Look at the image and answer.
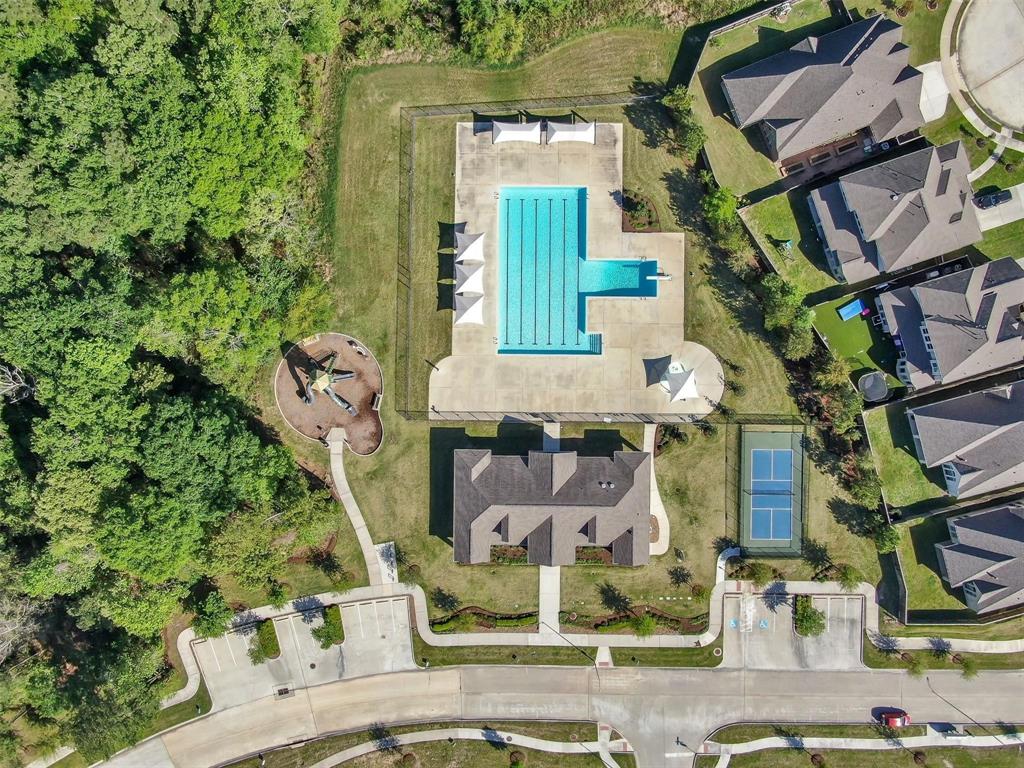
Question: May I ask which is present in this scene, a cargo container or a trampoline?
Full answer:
I can see a trampoline in this picture.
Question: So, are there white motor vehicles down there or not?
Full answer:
No, this view has no white motor vehicle in it.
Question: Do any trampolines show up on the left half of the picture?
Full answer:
No, on the left half of the picture there is no trampoline.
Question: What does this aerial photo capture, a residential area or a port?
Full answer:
What you see here is a residential area.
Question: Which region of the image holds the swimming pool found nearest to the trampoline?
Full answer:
You can find the swimming pool found nearest to the trampoline in the right area of the picture.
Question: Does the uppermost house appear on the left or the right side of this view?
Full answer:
It is on the right.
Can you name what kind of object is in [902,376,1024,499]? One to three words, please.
house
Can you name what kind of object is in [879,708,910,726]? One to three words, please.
car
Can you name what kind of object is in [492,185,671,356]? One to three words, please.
swimming pool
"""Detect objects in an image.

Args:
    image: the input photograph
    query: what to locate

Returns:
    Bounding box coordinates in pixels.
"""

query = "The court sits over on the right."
[741,431,802,556]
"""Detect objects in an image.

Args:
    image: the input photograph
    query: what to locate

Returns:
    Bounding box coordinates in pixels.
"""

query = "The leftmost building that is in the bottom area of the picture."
[454,449,650,569]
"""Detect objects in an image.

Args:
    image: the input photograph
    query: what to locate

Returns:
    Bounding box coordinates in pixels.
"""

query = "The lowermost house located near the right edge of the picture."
[931,497,1024,615]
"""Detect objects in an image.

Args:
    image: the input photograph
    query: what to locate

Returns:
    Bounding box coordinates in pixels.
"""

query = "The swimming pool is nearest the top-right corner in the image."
[836,300,868,322]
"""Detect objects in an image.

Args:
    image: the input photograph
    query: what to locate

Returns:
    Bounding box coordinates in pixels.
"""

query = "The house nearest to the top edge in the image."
[720,14,925,166]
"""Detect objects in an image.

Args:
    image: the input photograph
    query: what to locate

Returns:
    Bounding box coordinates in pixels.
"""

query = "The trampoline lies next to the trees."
[859,371,892,401]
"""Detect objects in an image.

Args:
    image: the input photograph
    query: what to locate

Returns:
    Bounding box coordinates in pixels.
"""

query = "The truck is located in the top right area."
[974,187,1017,210]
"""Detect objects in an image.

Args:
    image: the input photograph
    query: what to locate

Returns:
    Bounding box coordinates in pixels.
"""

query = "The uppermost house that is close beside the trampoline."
[871,257,1024,390]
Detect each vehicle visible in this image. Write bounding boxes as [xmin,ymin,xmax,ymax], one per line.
[974,187,1017,210]
[879,708,910,726]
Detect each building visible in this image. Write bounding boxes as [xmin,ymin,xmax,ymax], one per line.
[720,14,925,166]
[805,141,983,285]
[871,257,1024,390]
[931,497,1024,615]
[902,376,1024,499]
[454,449,650,569]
